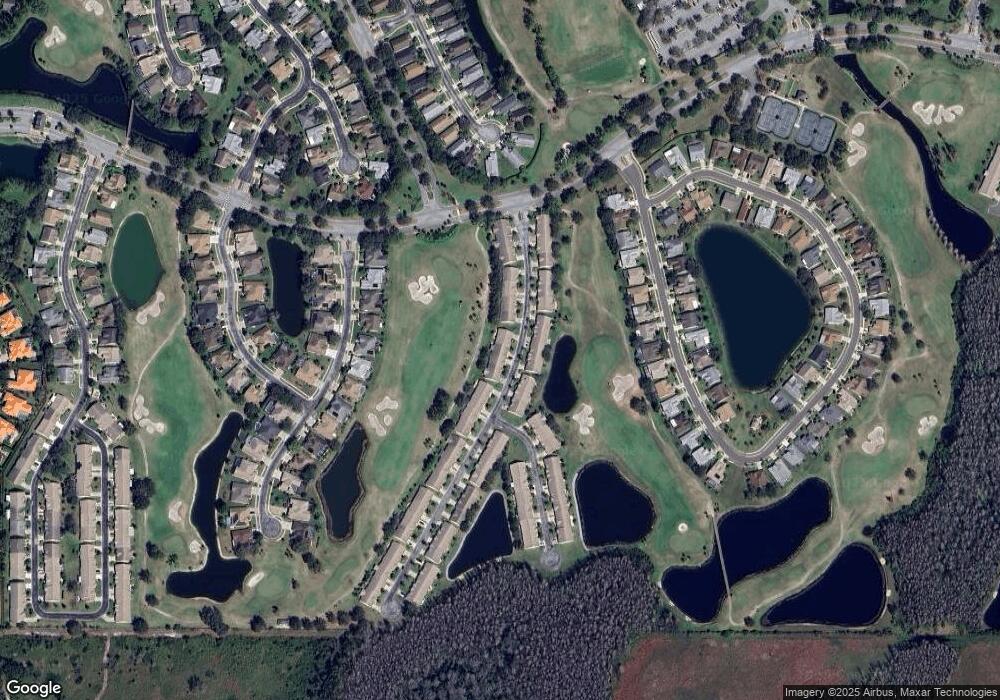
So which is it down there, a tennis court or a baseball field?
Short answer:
tennis court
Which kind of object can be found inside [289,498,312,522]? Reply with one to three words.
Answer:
house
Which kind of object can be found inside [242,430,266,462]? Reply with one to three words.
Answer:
house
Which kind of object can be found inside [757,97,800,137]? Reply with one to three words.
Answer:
tennis court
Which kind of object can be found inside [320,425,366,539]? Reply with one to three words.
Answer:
pond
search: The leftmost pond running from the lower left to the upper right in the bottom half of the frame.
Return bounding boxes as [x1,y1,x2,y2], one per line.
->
[448,492,514,579]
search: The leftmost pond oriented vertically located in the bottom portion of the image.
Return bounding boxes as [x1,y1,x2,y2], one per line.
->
[167,412,252,601]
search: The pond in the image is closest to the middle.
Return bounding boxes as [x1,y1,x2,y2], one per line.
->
[544,335,577,413]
